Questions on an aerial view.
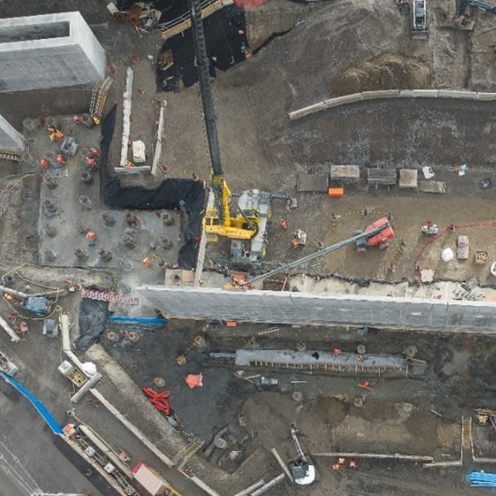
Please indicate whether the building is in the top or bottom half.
bottom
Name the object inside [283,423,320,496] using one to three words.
work vehicle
